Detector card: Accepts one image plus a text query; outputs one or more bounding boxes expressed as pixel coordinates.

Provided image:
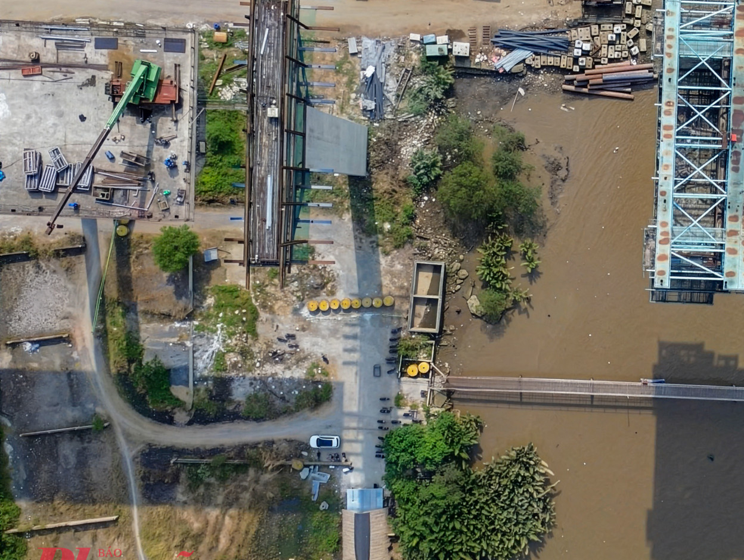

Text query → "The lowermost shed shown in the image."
[341,510,389,560]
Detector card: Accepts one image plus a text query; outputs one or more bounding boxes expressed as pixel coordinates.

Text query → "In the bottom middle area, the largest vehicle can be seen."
[311,433,342,449]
